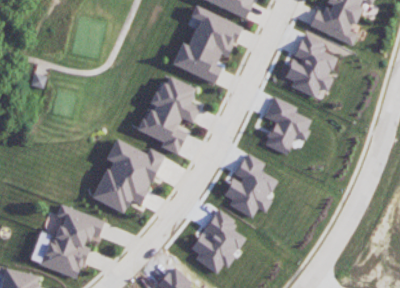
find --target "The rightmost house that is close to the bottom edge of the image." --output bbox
[192,209,250,276]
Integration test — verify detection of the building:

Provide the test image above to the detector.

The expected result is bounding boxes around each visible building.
[164,267,196,288]
[284,30,339,98]
[261,98,314,158]
[137,76,202,158]
[192,209,250,276]
[172,6,240,86]
[204,0,256,20]
[0,268,45,288]
[224,154,282,220]
[91,140,166,214]
[310,0,376,44]
[31,208,106,280]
